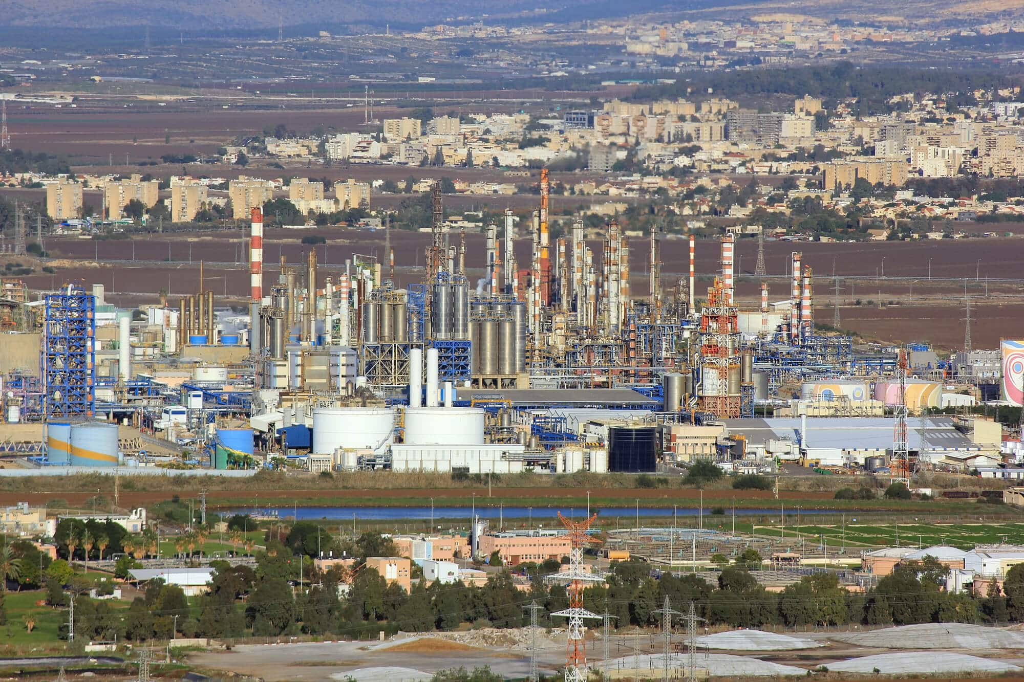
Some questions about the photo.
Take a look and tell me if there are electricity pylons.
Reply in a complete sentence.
Yes, the picture does show an electricity pylon.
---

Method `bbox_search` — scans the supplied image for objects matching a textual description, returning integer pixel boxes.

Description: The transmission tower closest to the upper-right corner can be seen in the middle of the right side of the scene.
[960,297,975,350]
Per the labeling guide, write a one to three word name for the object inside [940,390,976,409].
building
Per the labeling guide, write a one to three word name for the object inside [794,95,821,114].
building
